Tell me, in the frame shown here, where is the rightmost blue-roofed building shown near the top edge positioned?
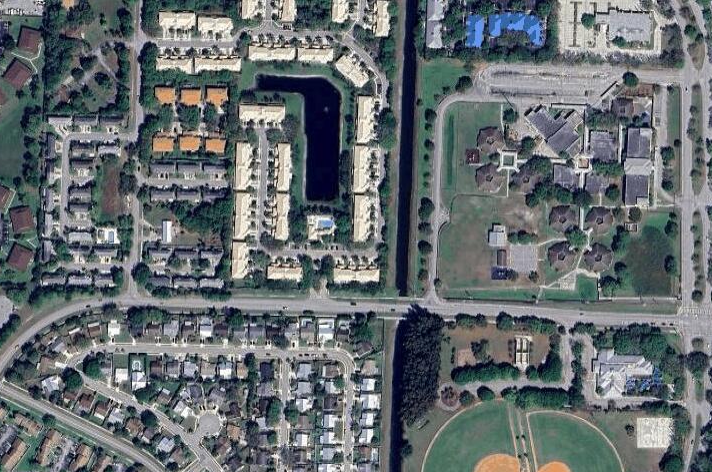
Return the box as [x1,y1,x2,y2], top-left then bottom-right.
[487,12,546,45]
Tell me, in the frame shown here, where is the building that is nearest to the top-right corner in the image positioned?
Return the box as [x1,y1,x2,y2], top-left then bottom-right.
[597,11,650,44]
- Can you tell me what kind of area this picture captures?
residential area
